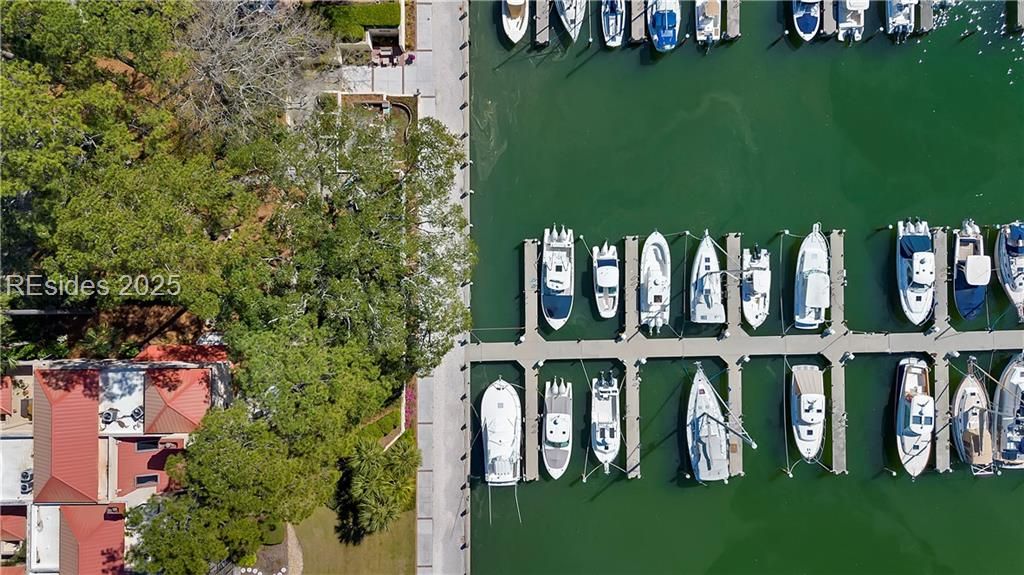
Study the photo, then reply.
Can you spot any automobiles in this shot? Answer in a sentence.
No, there's no automobile here.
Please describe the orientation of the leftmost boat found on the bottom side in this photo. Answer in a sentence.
The leftmost boat found on the bottom side is oriented up and down.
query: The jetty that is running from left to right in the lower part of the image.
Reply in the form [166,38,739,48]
[471,330,1024,362]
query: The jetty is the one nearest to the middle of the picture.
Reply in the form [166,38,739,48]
[515,238,547,340]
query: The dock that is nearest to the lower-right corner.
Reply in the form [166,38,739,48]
[926,352,953,473]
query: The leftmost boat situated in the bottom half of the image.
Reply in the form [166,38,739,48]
[479,375,523,529]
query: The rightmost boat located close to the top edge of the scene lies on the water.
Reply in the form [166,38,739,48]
[883,0,916,43]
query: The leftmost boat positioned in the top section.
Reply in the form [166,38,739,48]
[501,0,529,43]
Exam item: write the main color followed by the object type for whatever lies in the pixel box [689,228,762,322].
white boat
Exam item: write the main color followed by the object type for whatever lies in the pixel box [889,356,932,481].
white boat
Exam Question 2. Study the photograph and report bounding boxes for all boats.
[646,0,683,55]
[992,223,1024,327]
[686,361,757,486]
[836,0,869,42]
[558,0,586,41]
[689,228,762,322]
[600,0,625,49]
[787,363,826,466]
[542,376,573,480]
[693,0,720,52]
[639,231,678,334]
[790,0,820,42]
[889,356,932,481]
[949,363,1024,476]
[541,223,575,330]
[592,242,620,319]
[949,222,1004,321]
[741,245,771,330]
[590,374,621,475]
[479,375,523,529]
[790,222,830,332]
[892,215,936,329]
[883,0,916,43]
[501,0,529,43]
